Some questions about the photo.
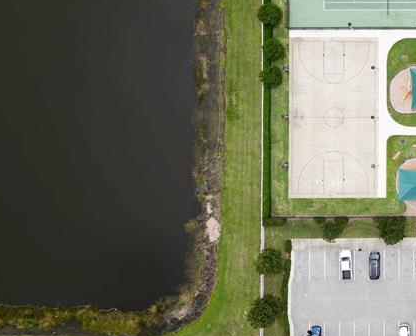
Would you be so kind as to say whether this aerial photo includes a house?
No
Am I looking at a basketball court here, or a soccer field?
basketball court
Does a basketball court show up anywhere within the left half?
No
